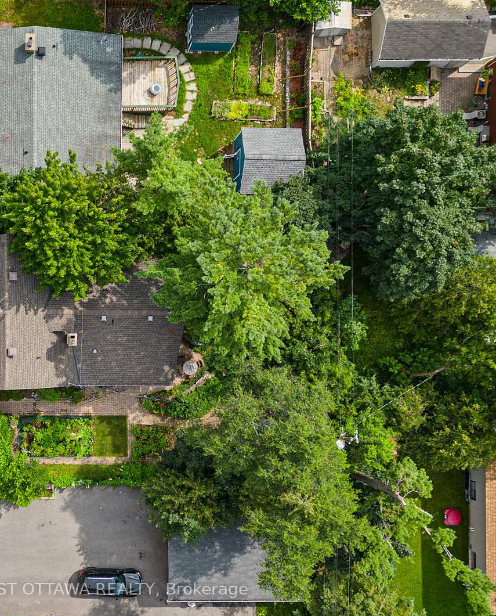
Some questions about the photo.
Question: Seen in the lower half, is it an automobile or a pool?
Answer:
automobile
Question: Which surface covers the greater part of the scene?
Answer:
trees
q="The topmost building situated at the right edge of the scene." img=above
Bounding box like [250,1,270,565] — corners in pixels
[372,0,495,67]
